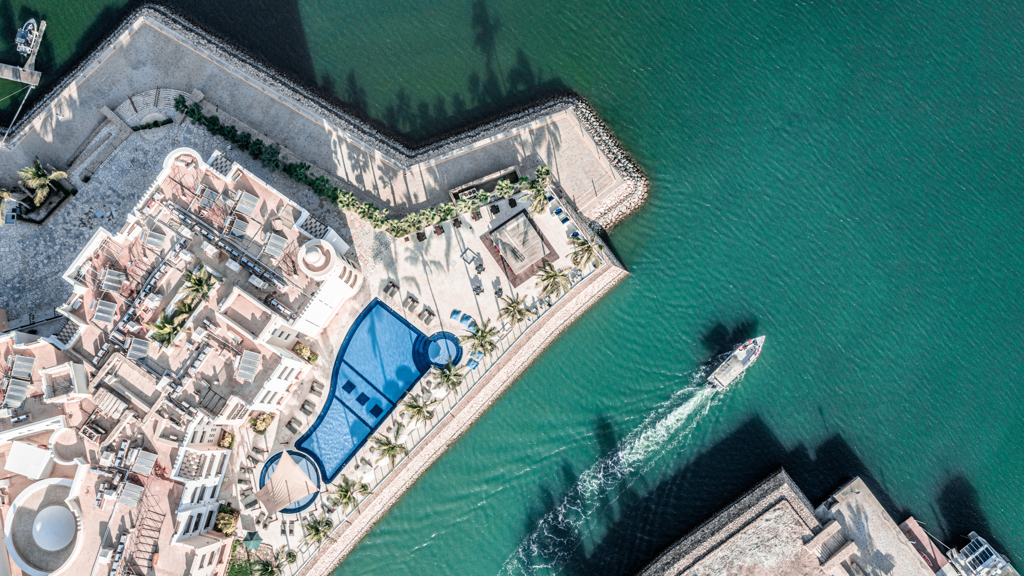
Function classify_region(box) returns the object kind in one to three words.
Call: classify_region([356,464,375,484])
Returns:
umbrella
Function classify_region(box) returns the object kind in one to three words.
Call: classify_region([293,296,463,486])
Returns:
swimming pool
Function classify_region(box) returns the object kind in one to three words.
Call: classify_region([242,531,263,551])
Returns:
umbrella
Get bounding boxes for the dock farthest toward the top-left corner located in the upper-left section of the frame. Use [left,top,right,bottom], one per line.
[0,20,48,90]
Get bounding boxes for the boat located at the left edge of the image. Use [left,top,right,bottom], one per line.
[15,20,35,55]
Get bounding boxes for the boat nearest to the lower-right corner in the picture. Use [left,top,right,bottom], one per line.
[943,531,1022,576]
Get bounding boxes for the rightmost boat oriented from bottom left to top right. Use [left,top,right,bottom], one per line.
[706,335,766,391]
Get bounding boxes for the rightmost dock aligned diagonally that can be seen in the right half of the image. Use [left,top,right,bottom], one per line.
[896,515,947,573]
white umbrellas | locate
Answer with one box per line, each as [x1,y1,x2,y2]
[429,380,450,400]
[368,444,388,464]
[404,412,424,432]
[390,424,409,443]
[356,464,375,484]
